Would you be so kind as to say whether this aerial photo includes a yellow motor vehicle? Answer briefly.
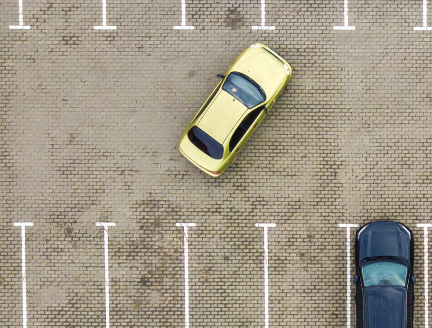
Yes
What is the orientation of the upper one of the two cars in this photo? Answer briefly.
diagonally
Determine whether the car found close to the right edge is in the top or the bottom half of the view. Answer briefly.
bottom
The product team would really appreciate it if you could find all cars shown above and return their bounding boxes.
[177,42,292,176]
[351,220,419,328]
